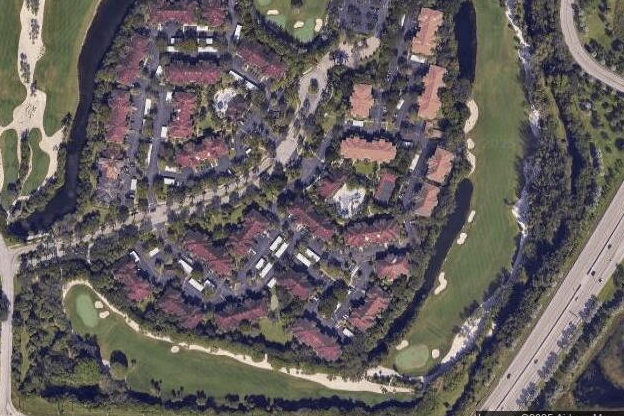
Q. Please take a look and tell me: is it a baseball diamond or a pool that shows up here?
pool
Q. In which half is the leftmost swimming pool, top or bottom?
top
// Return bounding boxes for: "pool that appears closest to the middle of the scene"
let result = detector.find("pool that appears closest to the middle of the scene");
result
[333,184,366,219]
